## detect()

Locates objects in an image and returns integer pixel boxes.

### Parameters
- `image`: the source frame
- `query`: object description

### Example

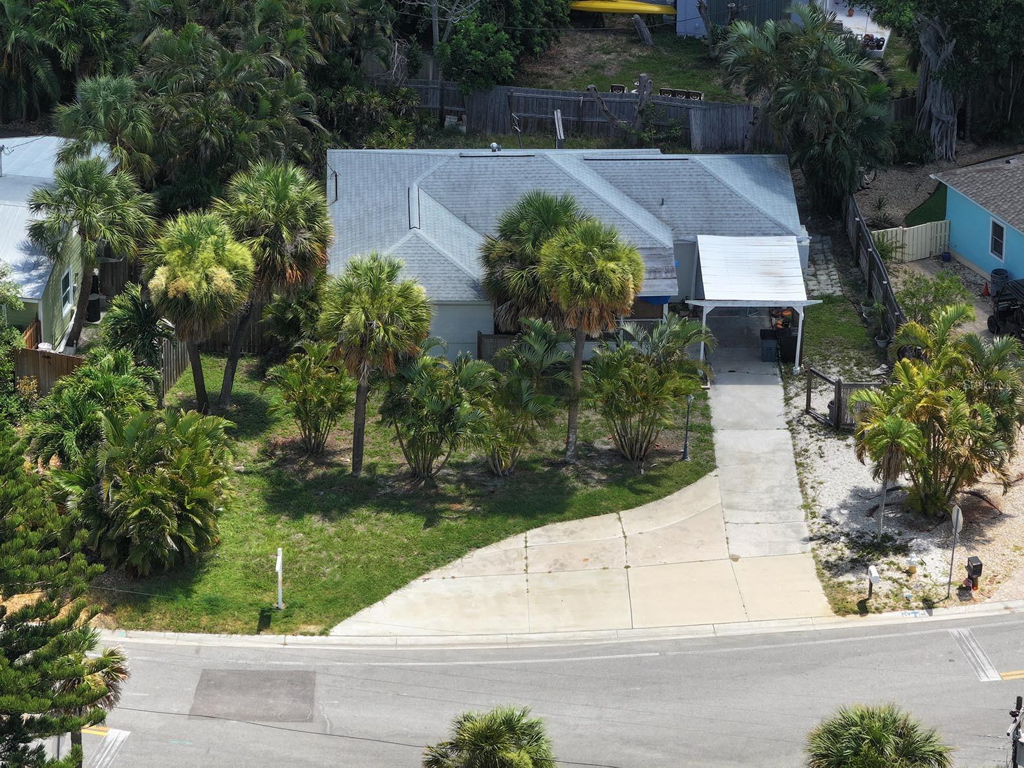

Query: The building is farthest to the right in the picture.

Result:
[931,152,1024,283]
